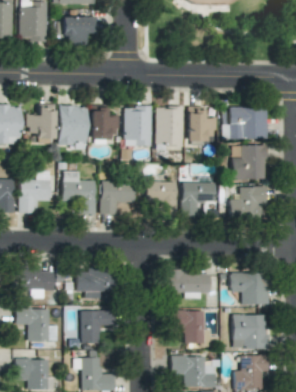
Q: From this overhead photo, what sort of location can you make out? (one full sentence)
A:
It's a residential area.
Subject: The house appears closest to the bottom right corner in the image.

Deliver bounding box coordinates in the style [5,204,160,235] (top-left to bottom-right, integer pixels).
[234,355,270,392]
